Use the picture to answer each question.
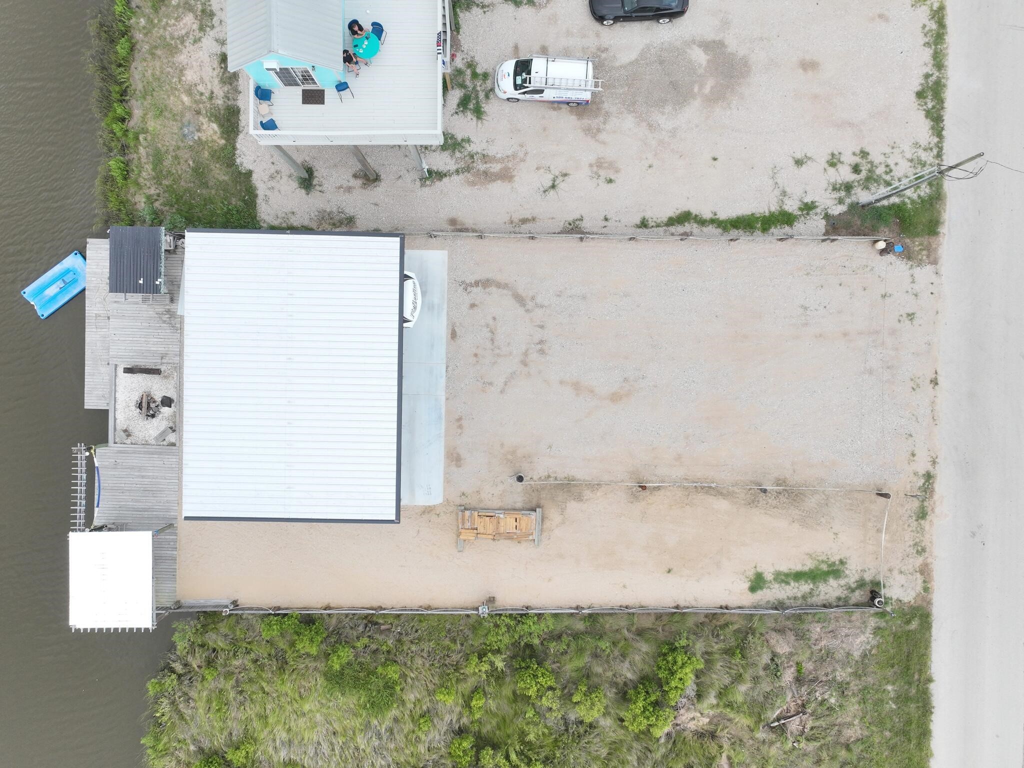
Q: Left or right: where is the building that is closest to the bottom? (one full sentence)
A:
The building that is closest to the bottom sits on the left side.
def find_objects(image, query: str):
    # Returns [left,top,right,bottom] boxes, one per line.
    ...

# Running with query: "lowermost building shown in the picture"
[69,529,158,632]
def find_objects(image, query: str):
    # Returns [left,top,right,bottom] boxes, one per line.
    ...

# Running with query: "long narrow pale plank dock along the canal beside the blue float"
[84,239,110,409]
